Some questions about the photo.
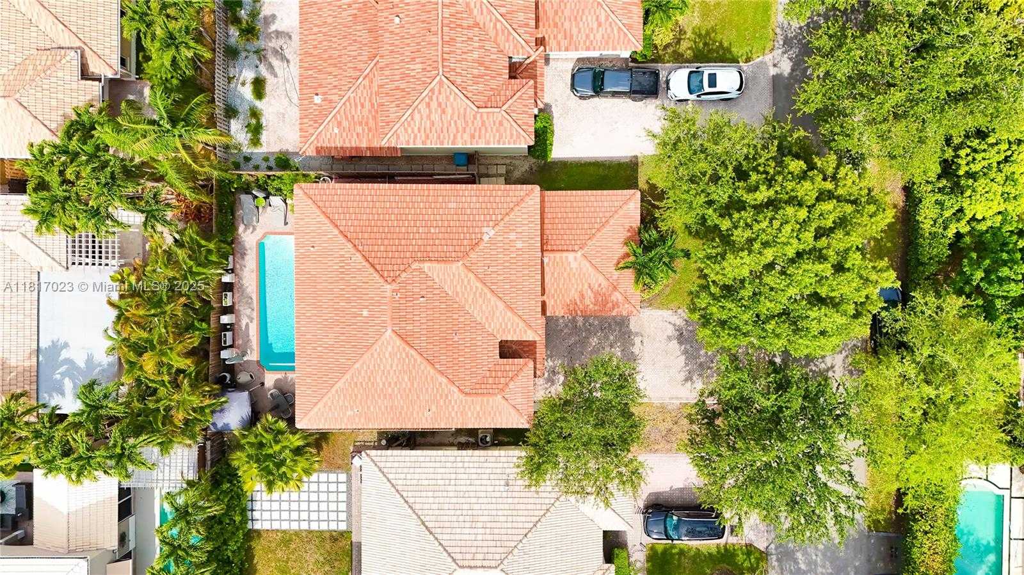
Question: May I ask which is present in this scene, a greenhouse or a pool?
pool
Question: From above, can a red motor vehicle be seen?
No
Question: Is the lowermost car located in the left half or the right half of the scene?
right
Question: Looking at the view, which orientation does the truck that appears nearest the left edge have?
horizontally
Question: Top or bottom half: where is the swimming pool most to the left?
bottom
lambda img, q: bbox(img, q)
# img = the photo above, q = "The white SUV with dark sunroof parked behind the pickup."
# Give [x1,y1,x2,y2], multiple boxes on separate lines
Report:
[666,63,745,103]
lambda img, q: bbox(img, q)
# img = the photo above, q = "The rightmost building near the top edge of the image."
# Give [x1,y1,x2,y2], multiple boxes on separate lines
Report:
[298,0,644,157]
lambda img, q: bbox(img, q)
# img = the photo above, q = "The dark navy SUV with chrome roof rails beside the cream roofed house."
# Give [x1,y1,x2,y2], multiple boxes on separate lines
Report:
[643,505,726,547]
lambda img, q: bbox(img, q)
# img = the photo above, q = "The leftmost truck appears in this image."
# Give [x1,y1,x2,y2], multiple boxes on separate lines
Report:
[571,63,661,103]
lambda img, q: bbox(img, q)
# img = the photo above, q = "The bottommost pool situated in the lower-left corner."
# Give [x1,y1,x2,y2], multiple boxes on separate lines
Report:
[156,485,204,575]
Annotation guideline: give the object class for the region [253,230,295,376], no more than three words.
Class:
swimming pool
